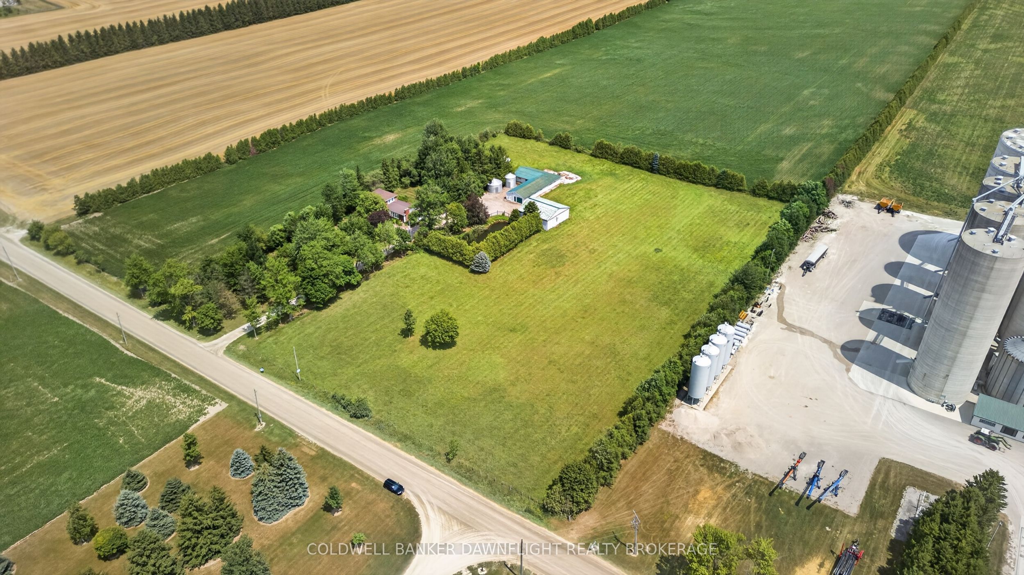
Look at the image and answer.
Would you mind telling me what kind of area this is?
industrial area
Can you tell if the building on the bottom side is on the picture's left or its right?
right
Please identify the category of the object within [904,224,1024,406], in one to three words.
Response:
silo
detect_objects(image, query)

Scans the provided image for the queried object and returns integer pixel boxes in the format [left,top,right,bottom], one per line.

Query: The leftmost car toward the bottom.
[384,472,409,492]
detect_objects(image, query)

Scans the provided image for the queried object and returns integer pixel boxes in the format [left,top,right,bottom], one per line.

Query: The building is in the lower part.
[970,393,1024,444]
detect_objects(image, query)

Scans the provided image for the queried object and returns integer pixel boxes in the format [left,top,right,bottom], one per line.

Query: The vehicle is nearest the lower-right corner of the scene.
[966,427,1010,454]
